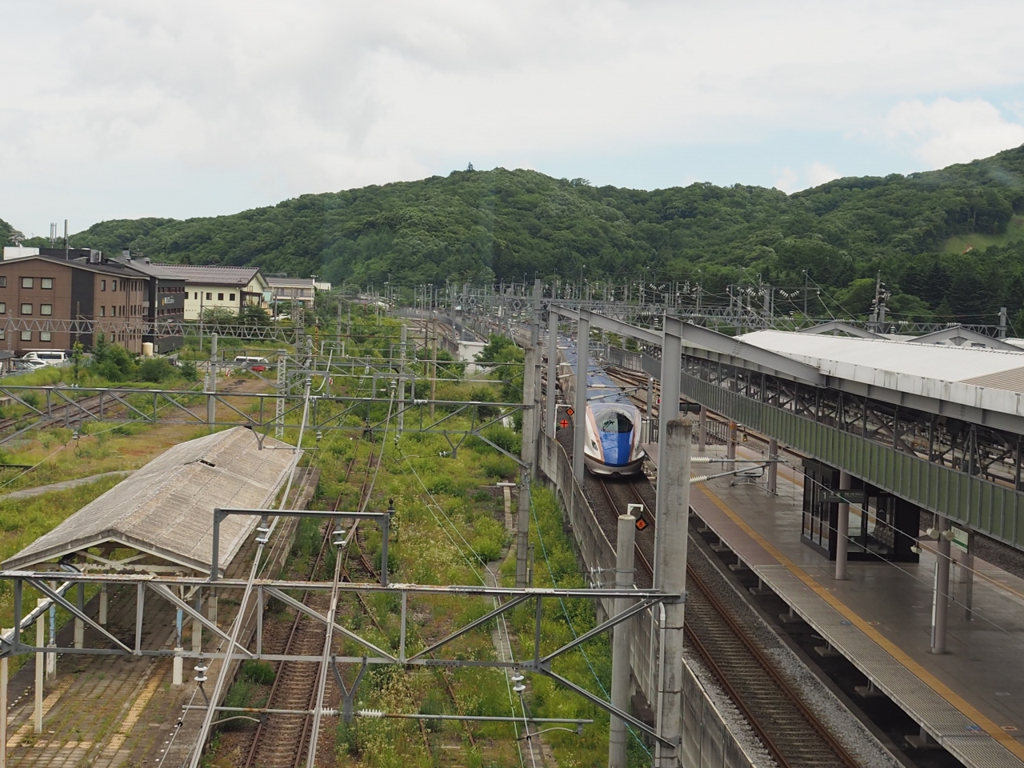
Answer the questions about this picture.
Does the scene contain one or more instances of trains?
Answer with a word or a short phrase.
Yes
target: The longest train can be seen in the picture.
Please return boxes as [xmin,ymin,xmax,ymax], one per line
[534,332,642,482]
